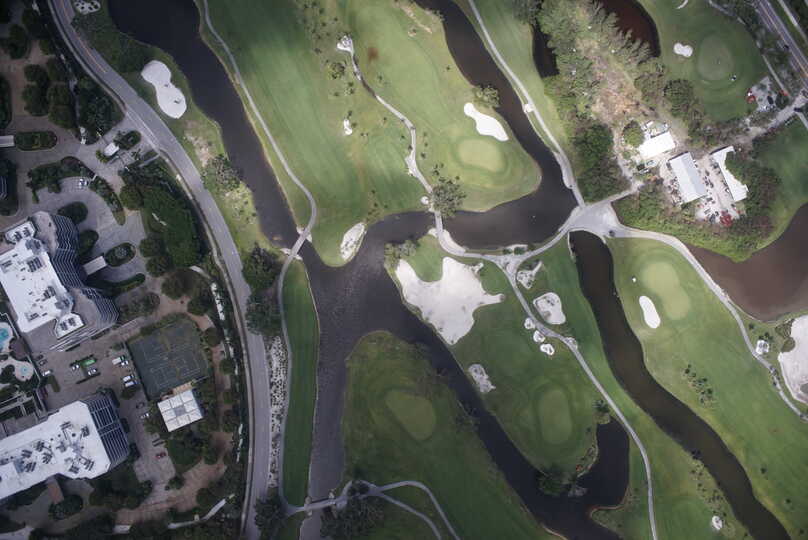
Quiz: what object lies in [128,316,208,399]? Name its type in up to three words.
tennis court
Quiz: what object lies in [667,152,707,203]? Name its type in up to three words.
shed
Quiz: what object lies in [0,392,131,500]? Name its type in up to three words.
building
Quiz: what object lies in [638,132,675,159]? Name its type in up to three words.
shed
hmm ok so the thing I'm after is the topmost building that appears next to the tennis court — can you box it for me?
[0,212,122,338]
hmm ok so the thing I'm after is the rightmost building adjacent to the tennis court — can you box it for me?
[158,389,205,433]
